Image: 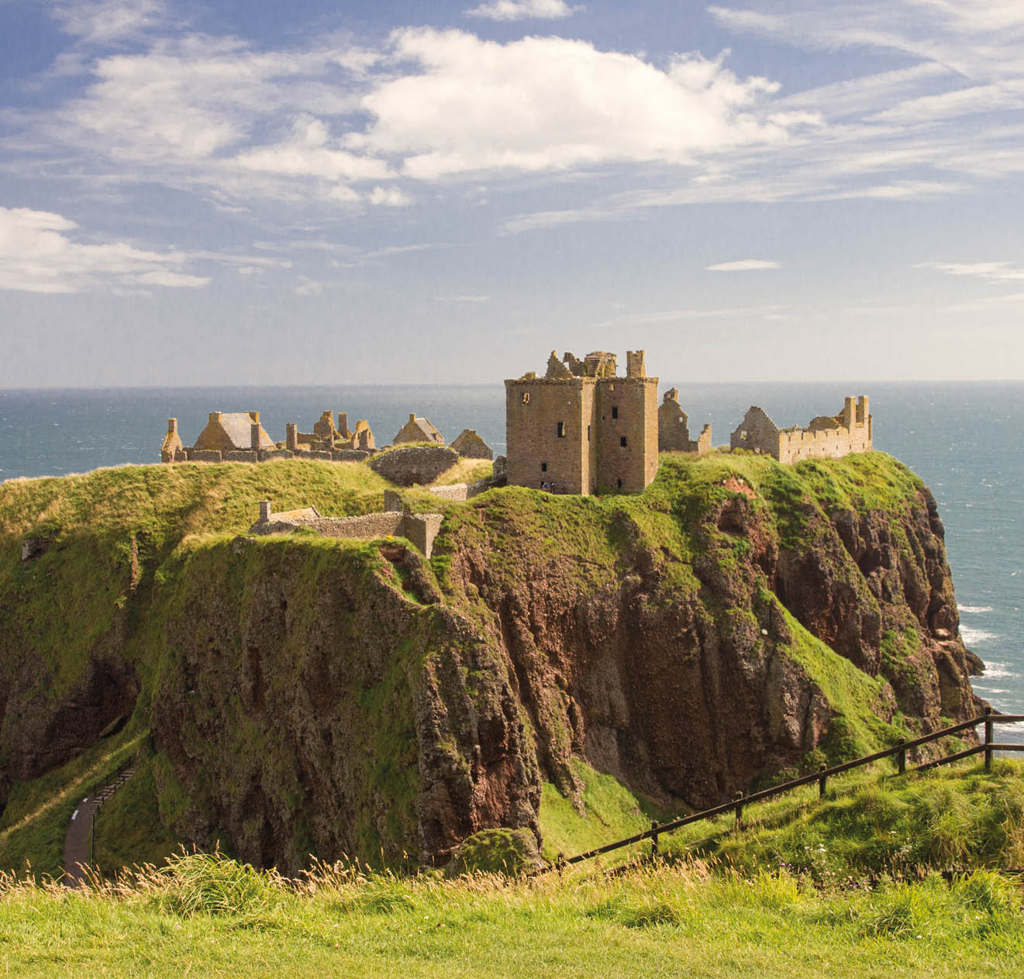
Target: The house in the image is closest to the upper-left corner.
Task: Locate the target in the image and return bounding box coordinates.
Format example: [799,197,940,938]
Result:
[191,408,283,465]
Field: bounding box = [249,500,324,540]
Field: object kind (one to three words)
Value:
building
